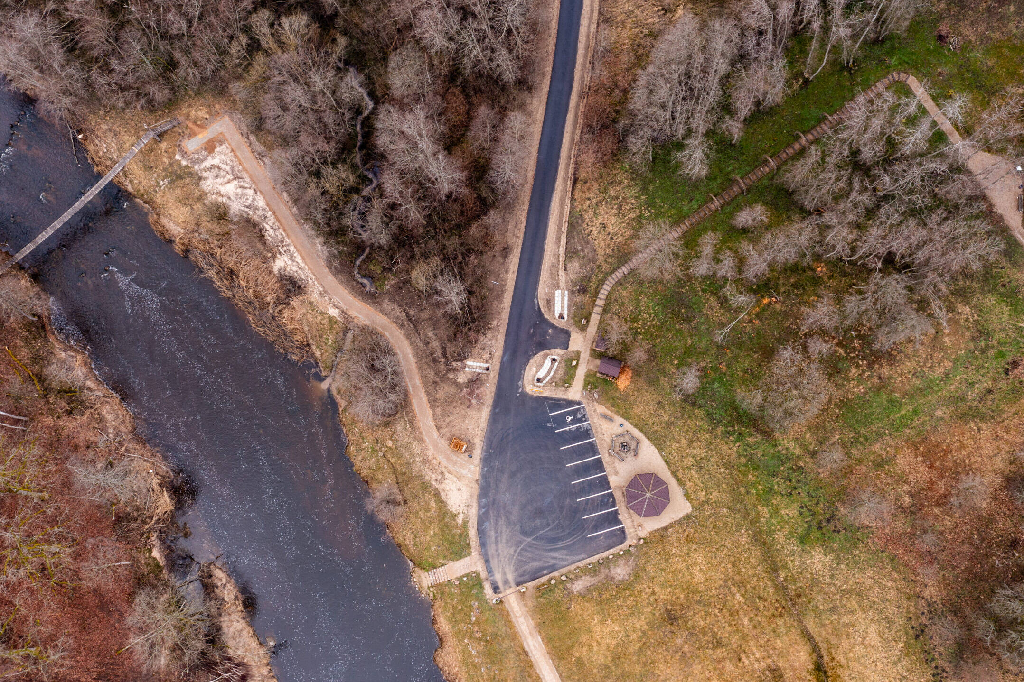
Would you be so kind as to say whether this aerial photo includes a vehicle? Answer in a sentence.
No, no vehicle can be seen from above.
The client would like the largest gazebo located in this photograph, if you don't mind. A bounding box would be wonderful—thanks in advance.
[626,473,670,518]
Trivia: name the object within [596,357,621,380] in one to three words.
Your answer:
shed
